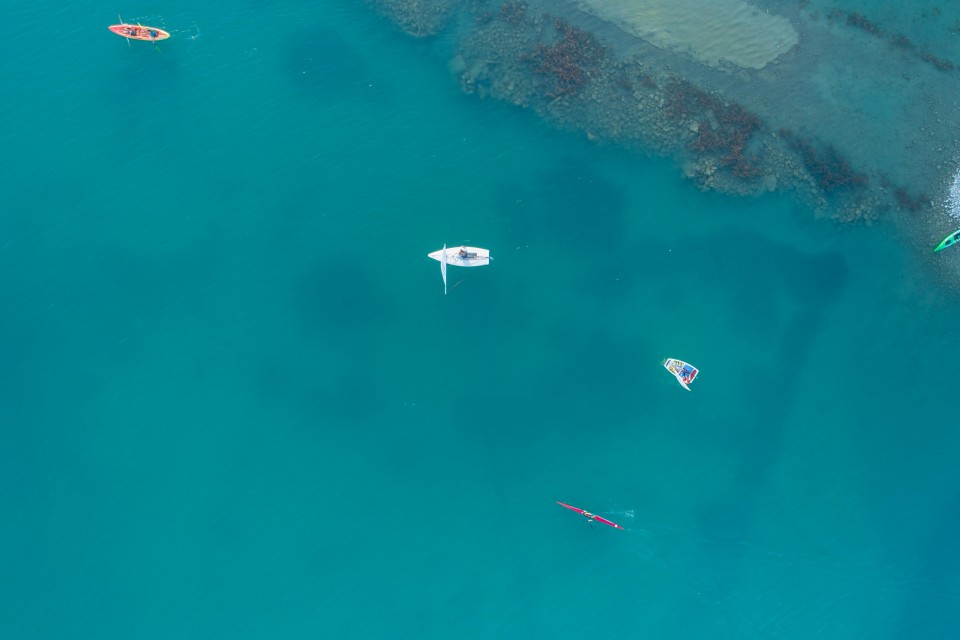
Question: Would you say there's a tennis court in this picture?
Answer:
No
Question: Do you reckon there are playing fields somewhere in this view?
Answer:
No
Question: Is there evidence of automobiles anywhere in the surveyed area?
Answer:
No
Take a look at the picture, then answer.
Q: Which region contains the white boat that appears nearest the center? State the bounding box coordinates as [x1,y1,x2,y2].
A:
[428,245,495,295]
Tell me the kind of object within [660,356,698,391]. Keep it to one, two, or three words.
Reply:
boat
